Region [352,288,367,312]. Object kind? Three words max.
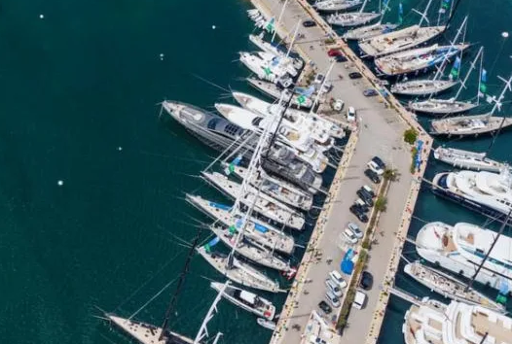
vehicle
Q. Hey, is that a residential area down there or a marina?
marina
